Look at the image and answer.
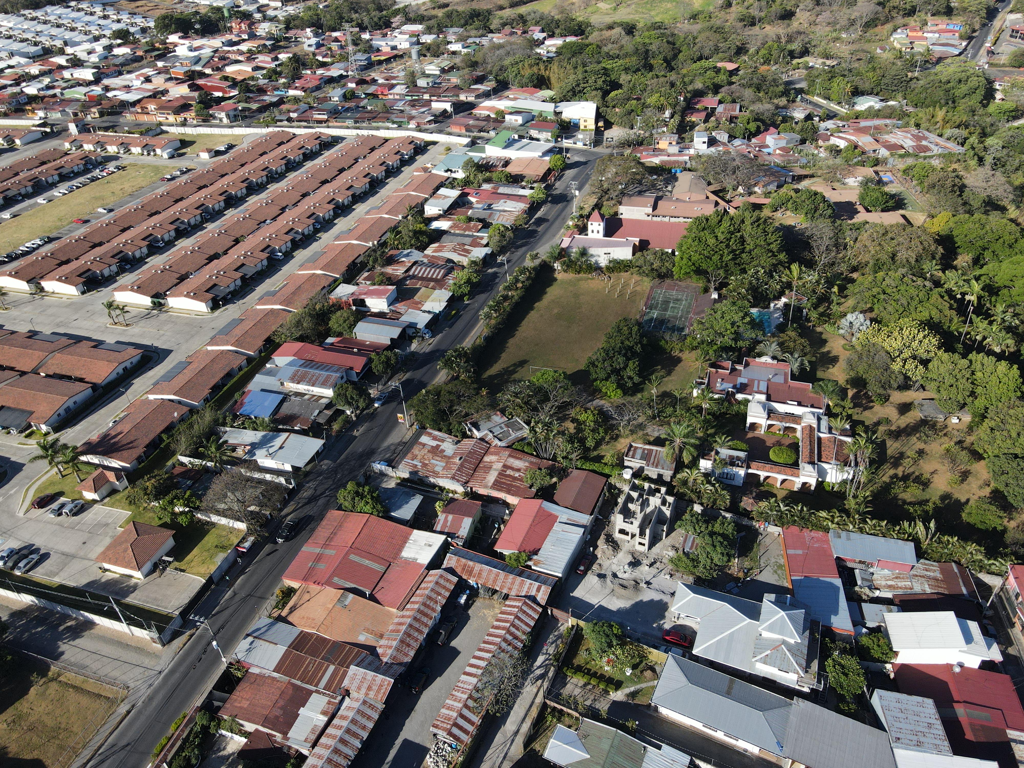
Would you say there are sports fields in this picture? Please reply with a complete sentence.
Yes, there's a sports field here.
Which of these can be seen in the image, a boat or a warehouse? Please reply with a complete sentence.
Of the two, only a warehouse appears.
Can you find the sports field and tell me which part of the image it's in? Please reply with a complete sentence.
The sports field is located in the center region of the scene.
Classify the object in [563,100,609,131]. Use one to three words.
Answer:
house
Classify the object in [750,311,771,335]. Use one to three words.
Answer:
swimming pool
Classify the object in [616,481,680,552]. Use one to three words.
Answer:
building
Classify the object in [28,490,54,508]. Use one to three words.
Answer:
car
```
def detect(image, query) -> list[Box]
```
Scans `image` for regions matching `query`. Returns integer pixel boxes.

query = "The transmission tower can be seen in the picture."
[342,22,361,74]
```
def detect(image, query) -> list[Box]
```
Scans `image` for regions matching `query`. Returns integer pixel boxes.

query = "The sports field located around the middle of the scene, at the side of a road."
[493,265,674,401]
